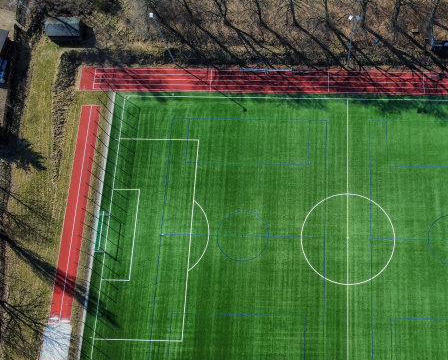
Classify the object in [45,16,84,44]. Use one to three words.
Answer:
shed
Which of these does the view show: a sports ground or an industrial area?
sports ground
